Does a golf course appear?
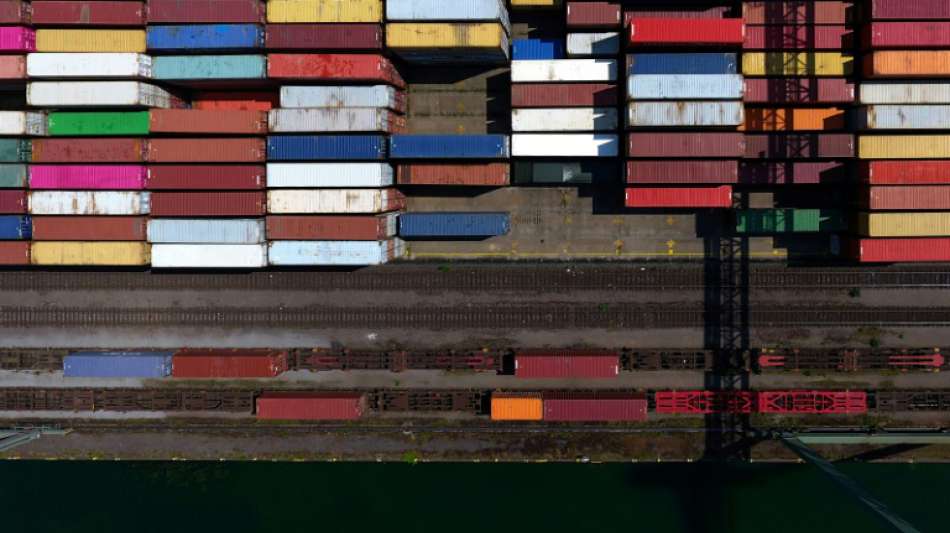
No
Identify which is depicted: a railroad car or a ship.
railroad car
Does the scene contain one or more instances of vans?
No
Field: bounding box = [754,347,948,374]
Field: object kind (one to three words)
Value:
rail car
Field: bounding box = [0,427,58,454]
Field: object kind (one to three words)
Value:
container crane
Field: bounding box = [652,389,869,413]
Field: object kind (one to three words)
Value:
rail car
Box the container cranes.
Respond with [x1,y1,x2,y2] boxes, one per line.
[0,427,58,454]
[758,429,950,533]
